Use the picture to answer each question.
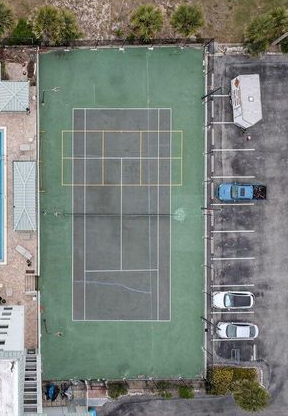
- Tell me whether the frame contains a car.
Yes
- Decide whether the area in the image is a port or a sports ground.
sports ground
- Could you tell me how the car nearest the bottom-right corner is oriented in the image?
from side to side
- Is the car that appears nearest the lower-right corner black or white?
white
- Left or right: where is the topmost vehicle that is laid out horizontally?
right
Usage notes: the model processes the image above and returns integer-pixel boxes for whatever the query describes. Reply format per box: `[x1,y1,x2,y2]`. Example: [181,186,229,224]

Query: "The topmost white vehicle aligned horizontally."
[212,290,254,310]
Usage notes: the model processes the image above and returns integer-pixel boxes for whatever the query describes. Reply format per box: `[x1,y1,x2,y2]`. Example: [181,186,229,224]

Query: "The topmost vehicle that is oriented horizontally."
[216,182,268,202]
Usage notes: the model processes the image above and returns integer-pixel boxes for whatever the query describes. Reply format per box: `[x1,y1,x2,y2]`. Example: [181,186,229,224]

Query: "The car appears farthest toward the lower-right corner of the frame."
[216,320,258,340]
